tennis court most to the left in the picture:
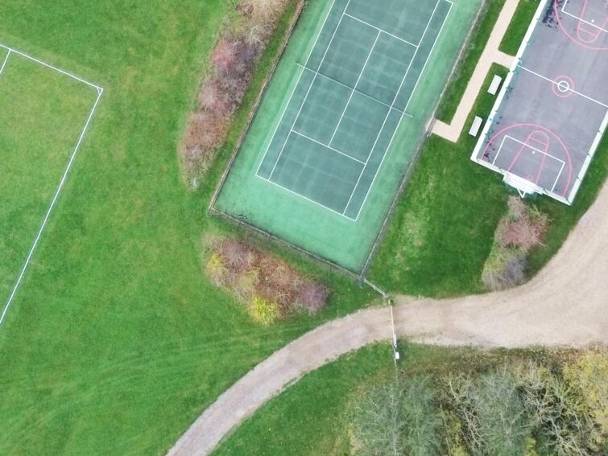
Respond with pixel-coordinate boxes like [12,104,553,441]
[214,0,483,271]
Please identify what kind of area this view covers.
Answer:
sports ground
